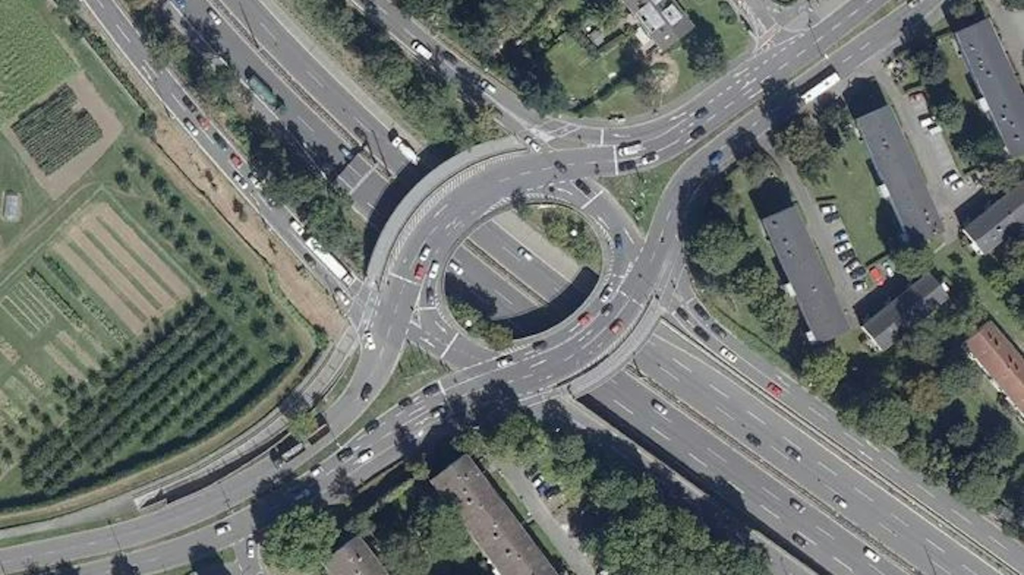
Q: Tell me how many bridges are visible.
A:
2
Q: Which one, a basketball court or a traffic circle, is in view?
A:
traffic circle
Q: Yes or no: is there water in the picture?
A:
No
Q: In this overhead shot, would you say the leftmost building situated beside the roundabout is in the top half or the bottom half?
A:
bottom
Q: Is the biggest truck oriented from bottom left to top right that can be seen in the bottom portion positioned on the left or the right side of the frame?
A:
left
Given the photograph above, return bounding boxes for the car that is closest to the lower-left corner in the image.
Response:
[213,522,233,536]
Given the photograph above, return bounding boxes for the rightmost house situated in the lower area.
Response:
[963,322,1024,414]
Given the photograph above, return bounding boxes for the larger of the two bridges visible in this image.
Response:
[366,134,529,282]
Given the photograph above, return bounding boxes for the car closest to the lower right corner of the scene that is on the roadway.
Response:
[862,546,880,562]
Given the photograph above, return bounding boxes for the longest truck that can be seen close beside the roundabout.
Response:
[303,239,356,286]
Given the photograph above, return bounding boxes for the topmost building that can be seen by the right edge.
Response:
[951,18,1024,164]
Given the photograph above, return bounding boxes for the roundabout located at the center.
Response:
[349,128,654,395]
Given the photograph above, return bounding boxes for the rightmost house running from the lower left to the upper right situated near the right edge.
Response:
[958,185,1024,254]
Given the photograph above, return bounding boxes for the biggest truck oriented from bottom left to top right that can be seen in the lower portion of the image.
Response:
[277,428,330,467]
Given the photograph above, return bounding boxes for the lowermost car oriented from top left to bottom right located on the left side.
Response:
[334,288,350,306]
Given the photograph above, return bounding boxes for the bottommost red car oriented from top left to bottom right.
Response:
[765,382,783,397]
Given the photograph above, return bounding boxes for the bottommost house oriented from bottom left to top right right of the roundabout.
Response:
[859,275,949,351]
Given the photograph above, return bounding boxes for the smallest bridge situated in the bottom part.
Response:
[554,297,663,400]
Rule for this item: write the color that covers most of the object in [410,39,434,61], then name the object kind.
white vehicle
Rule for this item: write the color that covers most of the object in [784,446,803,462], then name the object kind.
gray car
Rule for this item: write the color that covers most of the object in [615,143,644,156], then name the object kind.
white vehicle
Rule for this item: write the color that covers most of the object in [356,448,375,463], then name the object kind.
white car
